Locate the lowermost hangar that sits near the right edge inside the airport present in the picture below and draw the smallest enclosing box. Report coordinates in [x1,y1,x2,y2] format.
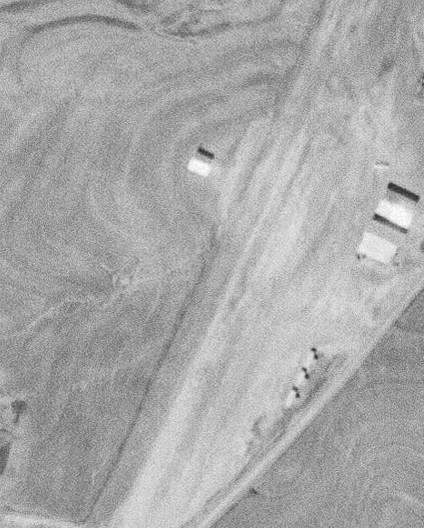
[359,218,405,264]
